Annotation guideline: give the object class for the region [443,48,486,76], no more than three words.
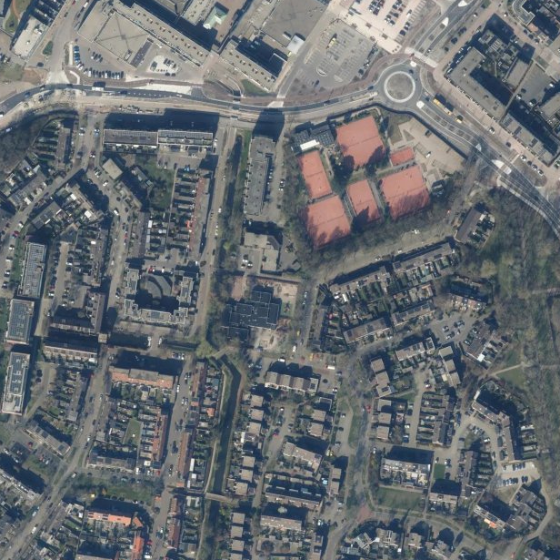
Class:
building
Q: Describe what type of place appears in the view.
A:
residential area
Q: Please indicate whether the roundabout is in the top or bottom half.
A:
top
